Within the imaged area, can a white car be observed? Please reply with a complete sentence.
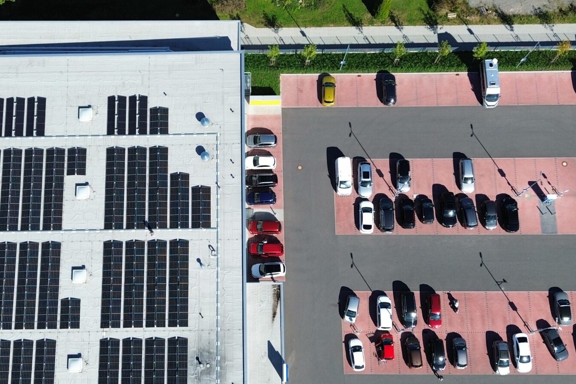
Yes, a white car can be made out from above.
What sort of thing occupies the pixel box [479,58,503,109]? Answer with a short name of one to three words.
vehicle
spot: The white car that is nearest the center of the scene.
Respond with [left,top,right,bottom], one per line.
[244,154,278,171]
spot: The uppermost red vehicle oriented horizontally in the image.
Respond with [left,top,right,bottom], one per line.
[247,218,283,236]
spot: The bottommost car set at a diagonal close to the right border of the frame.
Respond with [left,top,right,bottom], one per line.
[539,326,568,362]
